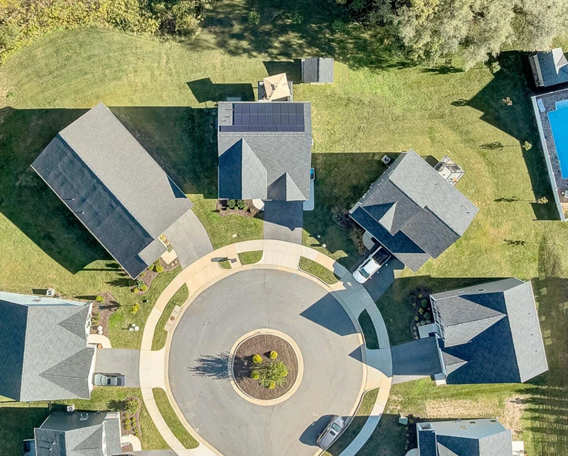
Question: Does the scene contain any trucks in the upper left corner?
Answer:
No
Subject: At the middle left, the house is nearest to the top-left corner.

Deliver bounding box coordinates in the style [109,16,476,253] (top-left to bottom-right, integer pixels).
[31,101,196,279]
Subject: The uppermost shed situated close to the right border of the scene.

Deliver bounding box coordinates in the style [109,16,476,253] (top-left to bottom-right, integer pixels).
[530,48,568,87]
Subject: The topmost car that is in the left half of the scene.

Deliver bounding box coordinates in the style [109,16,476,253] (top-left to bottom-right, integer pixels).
[95,372,126,387]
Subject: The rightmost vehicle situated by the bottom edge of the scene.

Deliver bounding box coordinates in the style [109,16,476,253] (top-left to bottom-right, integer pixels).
[317,414,343,450]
